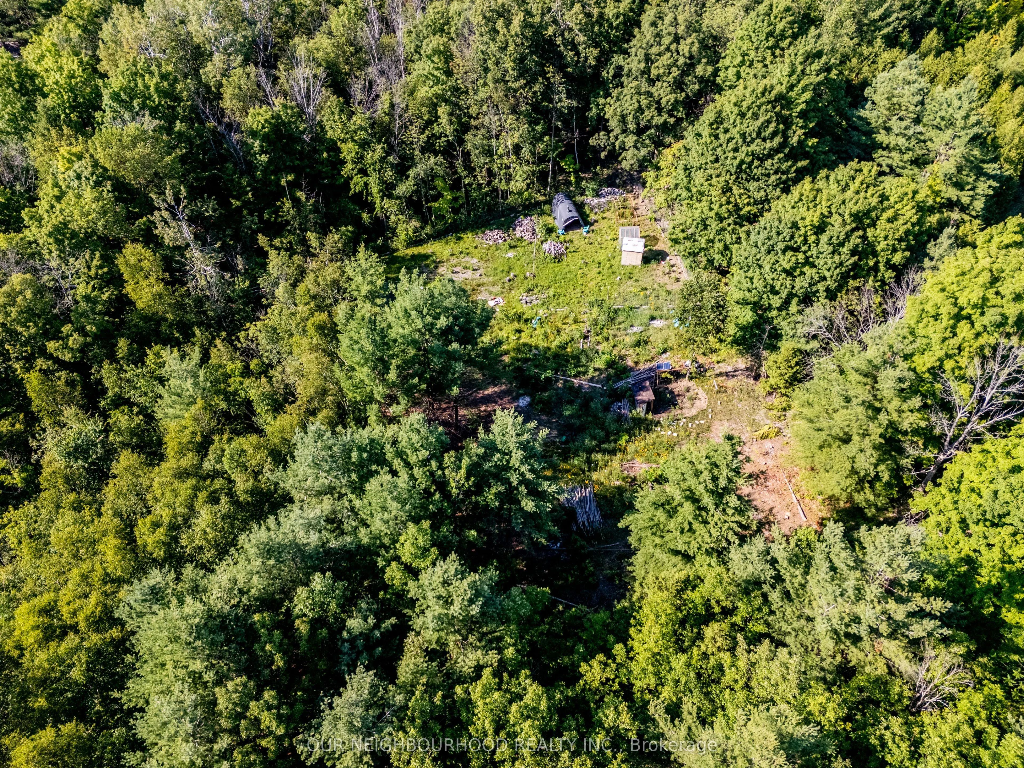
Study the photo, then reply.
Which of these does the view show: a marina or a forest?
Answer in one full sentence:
It's a forest.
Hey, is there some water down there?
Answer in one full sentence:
No, there's no water in this view.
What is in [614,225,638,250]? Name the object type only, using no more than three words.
greenhouse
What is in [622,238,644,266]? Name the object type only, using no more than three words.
shed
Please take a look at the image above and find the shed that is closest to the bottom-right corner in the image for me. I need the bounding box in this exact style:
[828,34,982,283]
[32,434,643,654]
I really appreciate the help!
[629,377,658,415]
